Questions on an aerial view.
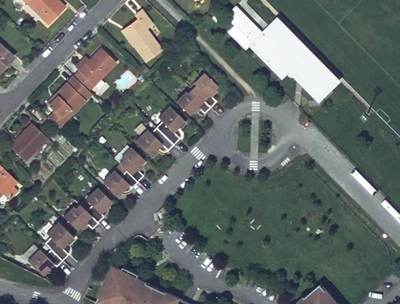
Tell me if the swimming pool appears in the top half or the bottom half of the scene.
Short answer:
top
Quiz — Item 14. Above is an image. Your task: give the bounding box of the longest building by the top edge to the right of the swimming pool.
[228,6,342,104]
